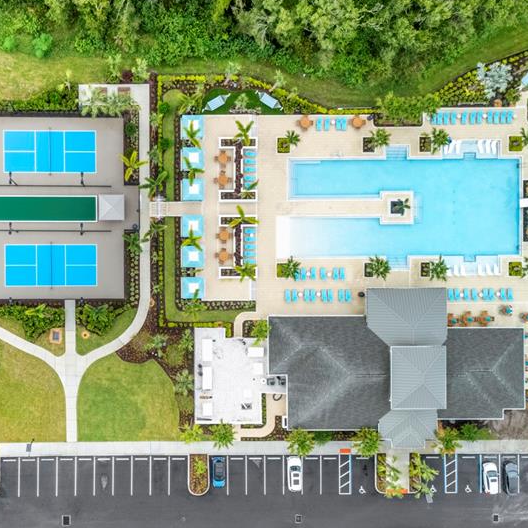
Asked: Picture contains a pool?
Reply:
Yes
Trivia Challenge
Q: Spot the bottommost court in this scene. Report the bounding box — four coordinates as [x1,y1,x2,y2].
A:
[5,241,97,288]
